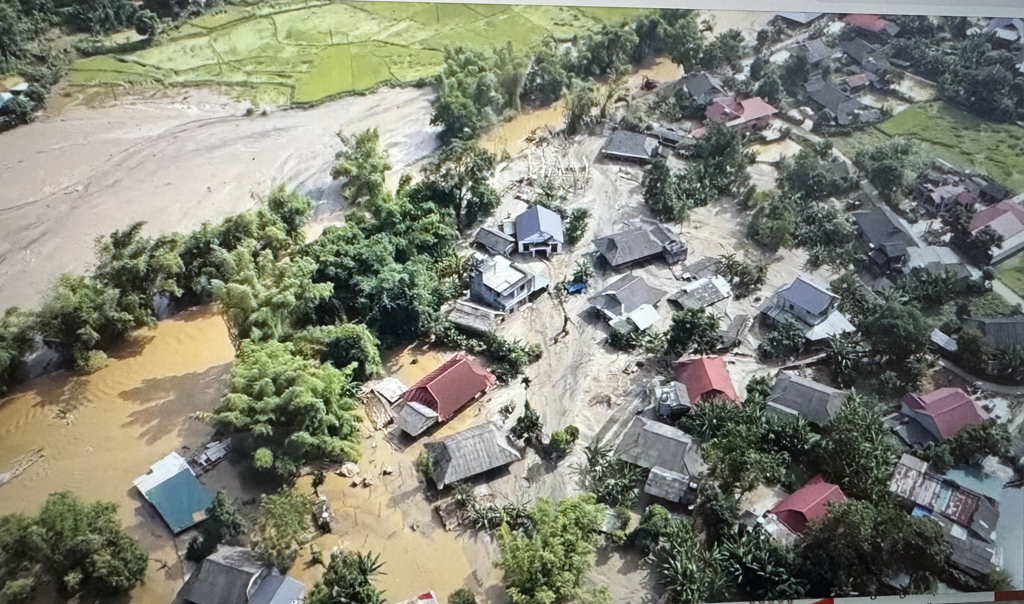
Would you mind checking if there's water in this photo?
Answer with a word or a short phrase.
Yes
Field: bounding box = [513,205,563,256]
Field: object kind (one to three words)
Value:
house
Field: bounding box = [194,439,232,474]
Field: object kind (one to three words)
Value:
shed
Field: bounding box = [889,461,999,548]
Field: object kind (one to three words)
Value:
building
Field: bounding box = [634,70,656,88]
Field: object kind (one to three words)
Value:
work vehicle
